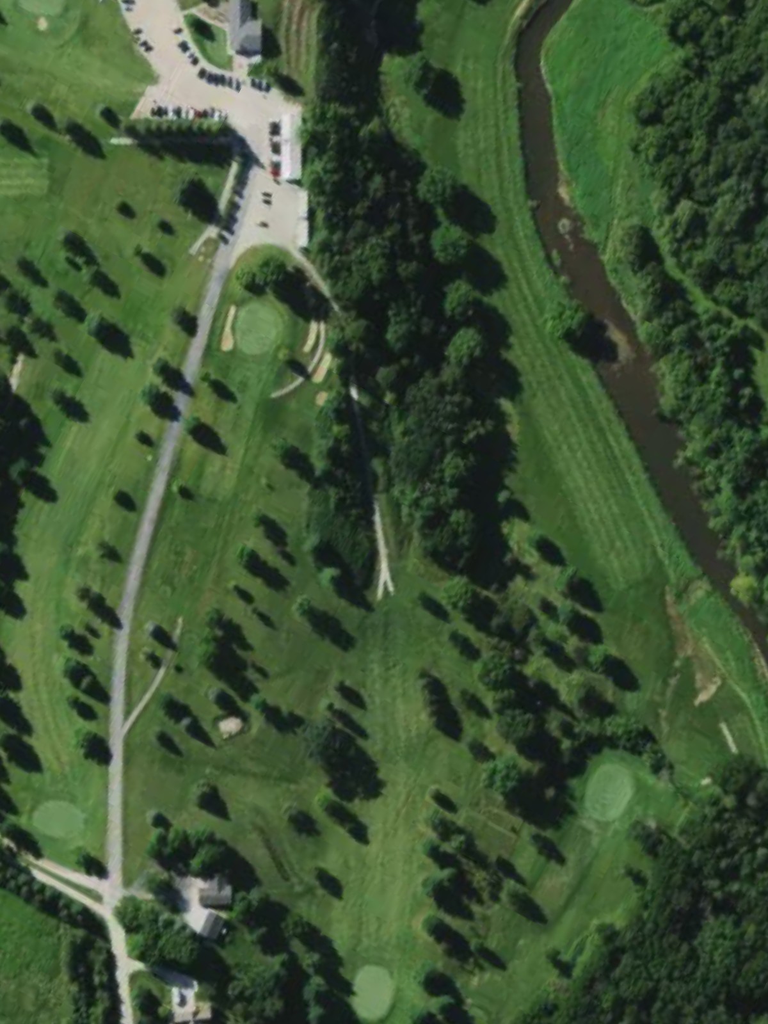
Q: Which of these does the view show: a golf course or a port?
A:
golf course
